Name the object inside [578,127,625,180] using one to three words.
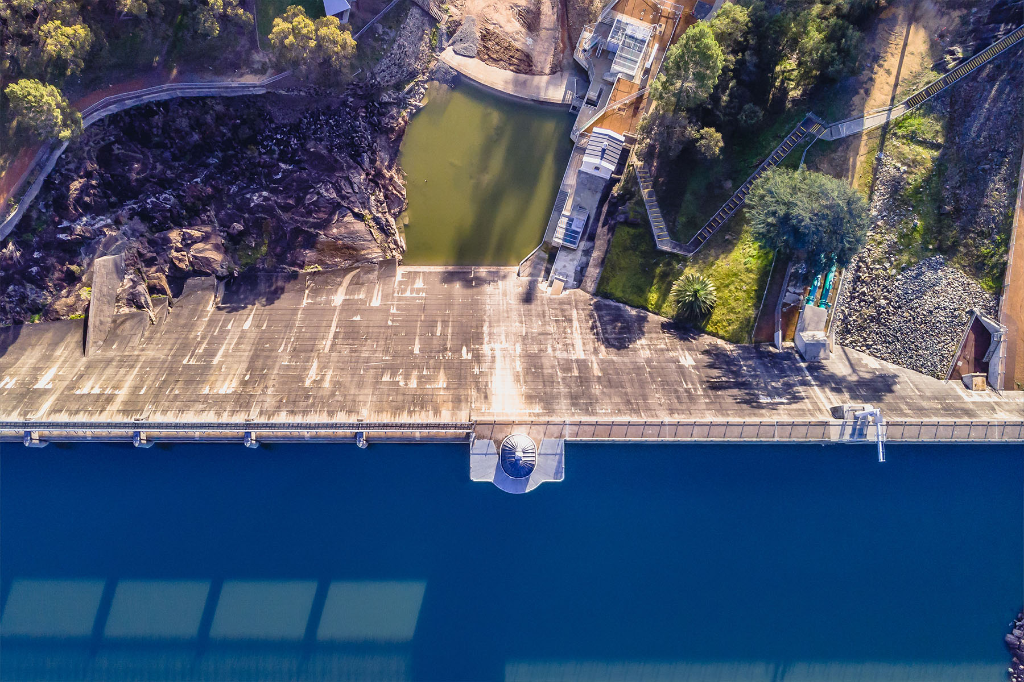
building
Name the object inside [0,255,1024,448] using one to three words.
dam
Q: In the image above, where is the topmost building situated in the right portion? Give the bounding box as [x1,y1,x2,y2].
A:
[604,16,653,81]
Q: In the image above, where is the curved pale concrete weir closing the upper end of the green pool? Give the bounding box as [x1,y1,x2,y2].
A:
[440,47,571,109]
